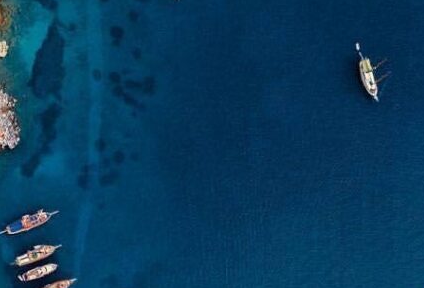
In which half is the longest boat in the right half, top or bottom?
top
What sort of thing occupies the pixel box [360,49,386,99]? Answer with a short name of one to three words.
boat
